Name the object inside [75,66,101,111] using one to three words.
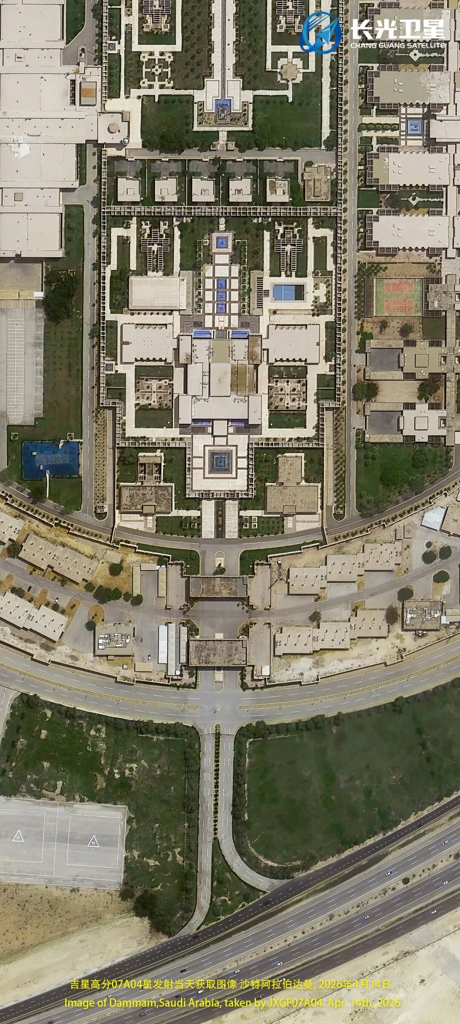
building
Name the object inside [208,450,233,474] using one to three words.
fountain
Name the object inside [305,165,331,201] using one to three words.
house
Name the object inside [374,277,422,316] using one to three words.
tennis court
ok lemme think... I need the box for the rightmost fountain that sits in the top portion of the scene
[407,119,423,136]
